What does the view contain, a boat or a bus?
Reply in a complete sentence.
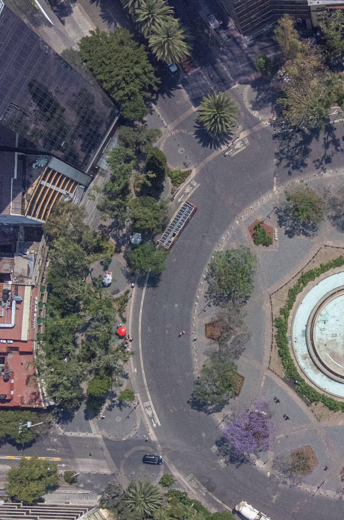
Visible in the photo is a bus.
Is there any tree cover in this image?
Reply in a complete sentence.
Yes, there's tree cover in this view.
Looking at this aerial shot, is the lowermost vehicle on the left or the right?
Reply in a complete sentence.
The lowermost vehicle sits on the right side.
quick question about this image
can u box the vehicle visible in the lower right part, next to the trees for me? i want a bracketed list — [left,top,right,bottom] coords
[229,500,276,520]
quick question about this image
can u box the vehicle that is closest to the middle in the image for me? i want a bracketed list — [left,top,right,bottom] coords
[158,199,198,252]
